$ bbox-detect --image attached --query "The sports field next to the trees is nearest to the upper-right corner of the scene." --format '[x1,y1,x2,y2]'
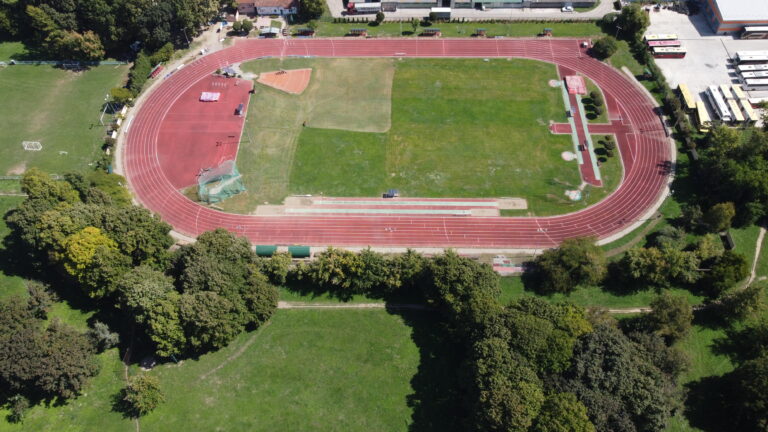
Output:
[181,57,622,215]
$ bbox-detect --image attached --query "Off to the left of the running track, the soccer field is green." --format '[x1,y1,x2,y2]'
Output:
[0,64,127,179]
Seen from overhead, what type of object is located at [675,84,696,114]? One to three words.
bus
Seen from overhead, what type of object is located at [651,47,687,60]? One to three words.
vehicle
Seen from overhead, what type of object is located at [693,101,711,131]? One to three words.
vehicle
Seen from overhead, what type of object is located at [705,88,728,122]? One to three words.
bus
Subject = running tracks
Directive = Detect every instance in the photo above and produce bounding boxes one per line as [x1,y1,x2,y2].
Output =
[123,39,671,248]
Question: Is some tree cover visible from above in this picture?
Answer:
Yes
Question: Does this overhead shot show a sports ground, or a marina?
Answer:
sports ground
